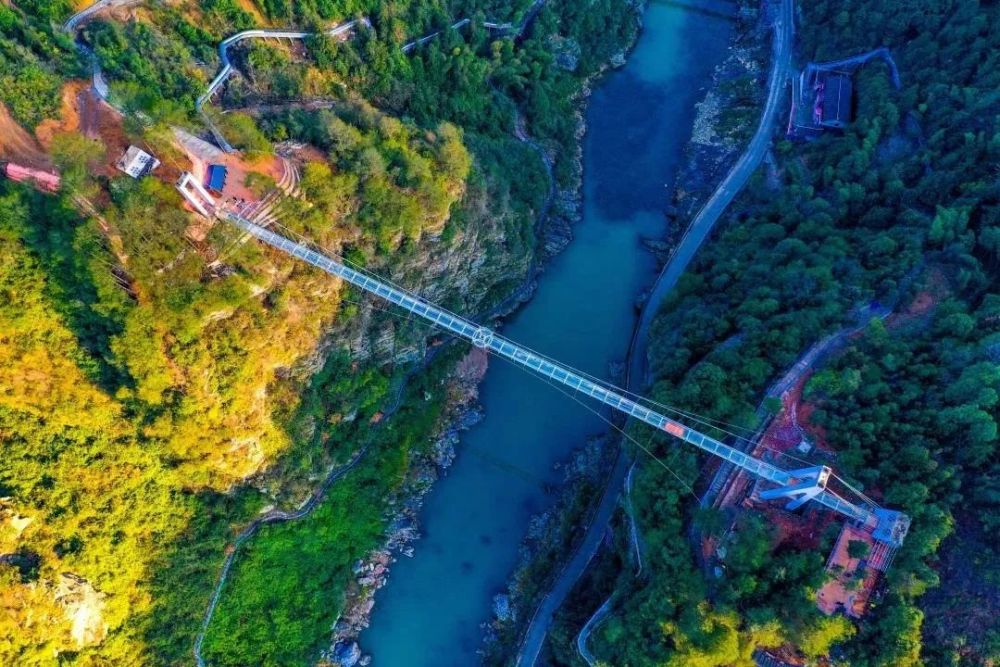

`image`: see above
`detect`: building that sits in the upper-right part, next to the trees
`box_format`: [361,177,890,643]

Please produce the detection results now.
[811,73,851,126]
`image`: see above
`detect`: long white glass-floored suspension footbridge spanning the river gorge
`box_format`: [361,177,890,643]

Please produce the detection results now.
[147,169,872,529]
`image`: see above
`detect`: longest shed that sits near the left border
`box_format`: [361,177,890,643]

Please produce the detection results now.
[6,163,68,198]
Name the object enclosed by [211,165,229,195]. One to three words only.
shed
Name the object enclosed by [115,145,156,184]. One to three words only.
building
